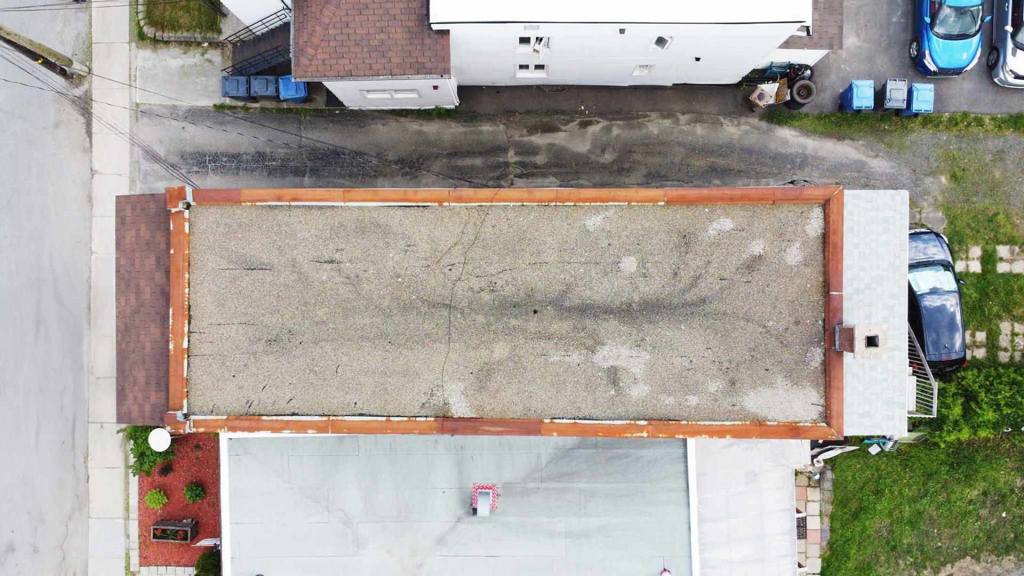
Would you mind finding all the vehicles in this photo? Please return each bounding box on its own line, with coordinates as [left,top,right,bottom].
[910,0,995,77]
[908,230,971,375]
[986,0,1024,91]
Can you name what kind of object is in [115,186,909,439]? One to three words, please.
building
